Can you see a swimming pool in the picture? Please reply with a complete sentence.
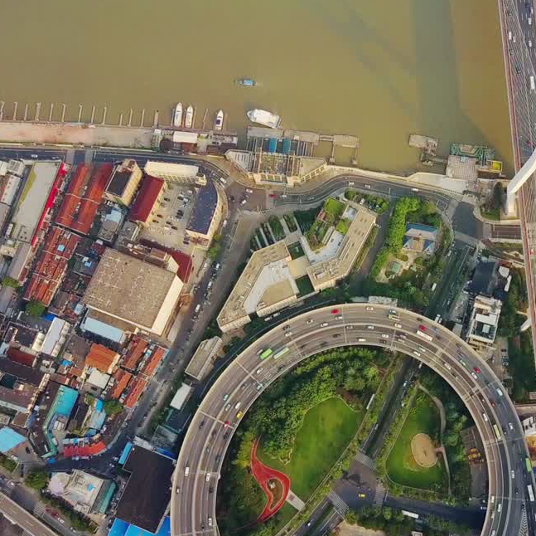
No, the frame has no swimming pool in it.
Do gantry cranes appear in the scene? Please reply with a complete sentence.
No, no gantry crane is visible in the scene.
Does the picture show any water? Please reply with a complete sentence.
Yes, water can be seen from above here.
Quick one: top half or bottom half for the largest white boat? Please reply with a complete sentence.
The largest white boat sits in the top half of the picture.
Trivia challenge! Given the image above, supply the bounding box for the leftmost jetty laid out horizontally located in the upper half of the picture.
[247,126,284,139]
